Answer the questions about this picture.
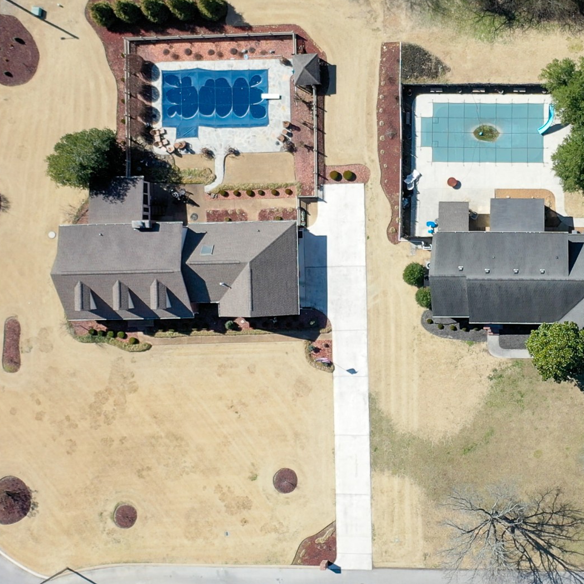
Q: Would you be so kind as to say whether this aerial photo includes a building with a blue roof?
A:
No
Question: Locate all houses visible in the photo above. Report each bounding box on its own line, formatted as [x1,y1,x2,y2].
[50,176,304,322]
[429,198,584,338]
